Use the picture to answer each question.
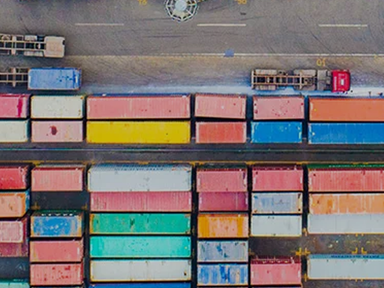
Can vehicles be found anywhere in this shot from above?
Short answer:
Yes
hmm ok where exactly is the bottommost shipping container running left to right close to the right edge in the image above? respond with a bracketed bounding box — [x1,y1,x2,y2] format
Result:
[308,253,384,279]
